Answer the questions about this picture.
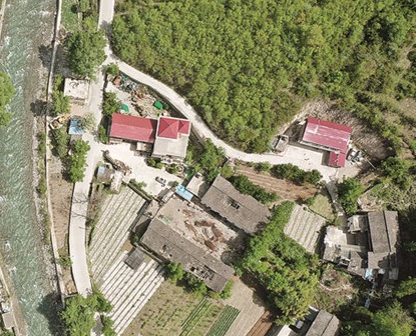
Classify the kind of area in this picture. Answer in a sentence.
This looks like a residential area.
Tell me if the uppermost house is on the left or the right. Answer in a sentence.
You can find the uppermost house on the left side of the picture.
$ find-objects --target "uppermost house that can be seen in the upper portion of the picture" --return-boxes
[64,78,90,102]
